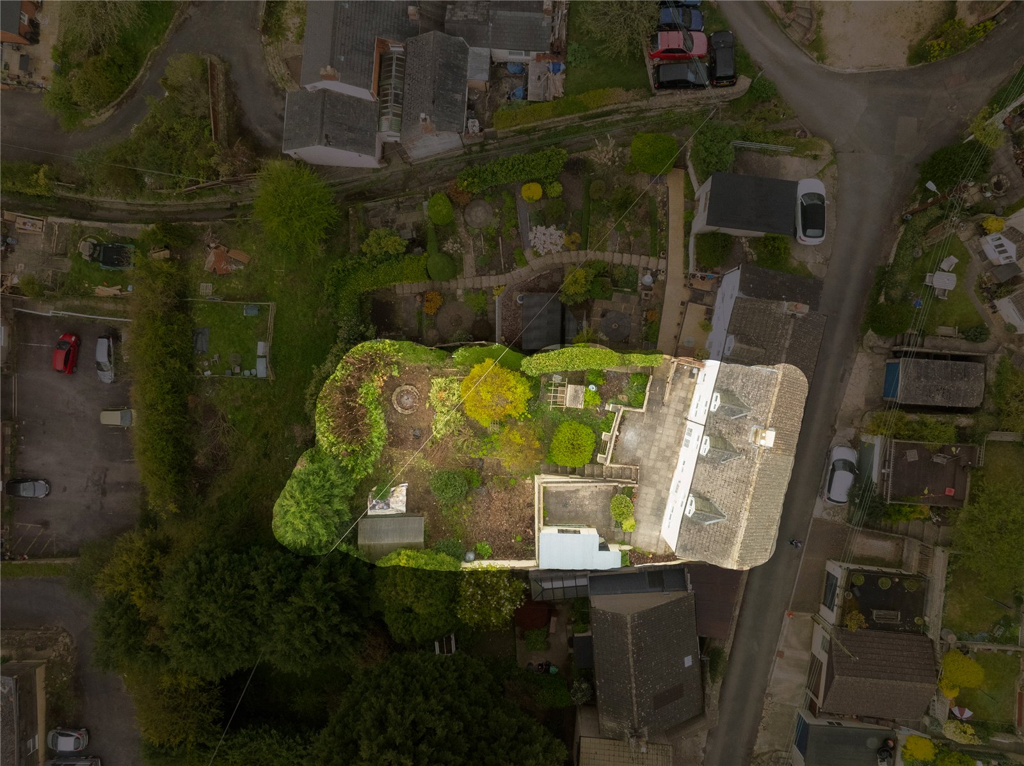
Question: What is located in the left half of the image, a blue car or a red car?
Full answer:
What appears in the left half of the image is a red car.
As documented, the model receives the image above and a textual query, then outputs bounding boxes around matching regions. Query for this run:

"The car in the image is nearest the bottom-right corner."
[820,445,858,504]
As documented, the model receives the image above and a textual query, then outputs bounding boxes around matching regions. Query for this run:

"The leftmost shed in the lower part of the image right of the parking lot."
[356,510,428,562]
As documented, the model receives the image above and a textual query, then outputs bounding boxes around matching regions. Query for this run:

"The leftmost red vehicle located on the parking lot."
[51,332,85,376]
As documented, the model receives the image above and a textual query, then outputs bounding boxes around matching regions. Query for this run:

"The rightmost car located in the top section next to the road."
[795,180,827,245]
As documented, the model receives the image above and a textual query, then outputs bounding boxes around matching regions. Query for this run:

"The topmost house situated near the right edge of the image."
[961,215,1024,276]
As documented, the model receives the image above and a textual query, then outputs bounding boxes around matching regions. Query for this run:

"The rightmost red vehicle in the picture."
[649,32,707,63]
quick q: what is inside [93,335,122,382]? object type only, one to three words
car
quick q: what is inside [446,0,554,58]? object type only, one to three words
building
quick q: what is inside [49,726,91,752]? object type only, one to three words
car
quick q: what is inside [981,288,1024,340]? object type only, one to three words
house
